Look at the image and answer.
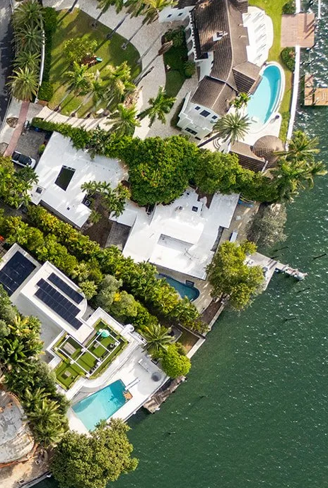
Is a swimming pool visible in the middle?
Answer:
Yes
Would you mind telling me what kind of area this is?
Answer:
residential area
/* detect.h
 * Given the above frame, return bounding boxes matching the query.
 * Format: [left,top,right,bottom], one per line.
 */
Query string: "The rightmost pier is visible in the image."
[299,75,328,109]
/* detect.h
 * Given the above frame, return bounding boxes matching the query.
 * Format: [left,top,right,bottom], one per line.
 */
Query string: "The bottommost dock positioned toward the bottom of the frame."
[147,373,187,414]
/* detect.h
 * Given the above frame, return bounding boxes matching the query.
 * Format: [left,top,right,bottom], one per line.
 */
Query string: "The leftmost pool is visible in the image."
[71,376,136,429]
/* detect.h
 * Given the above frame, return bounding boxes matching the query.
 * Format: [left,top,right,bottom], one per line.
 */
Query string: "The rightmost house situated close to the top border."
[148,0,262,139]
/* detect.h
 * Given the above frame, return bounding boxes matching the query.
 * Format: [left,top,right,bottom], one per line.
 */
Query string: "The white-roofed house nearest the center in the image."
[116,183,240,284]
